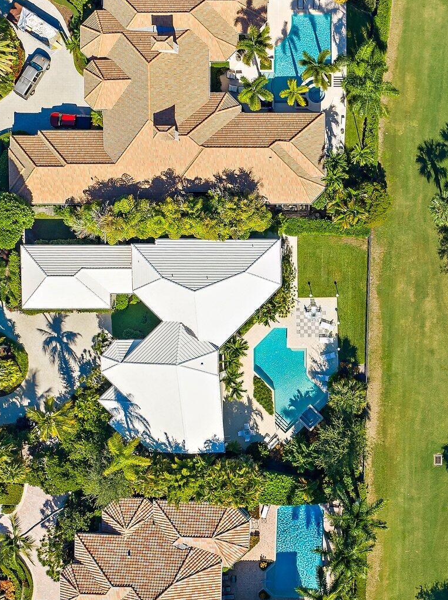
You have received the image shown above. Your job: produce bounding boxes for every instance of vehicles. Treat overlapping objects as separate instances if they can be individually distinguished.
[49,111,92,130]
[14,51,53,102]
